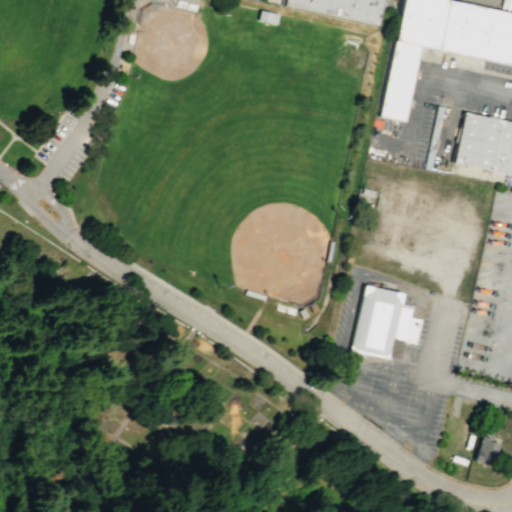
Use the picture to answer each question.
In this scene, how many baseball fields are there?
two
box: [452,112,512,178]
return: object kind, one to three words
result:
building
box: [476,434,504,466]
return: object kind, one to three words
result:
house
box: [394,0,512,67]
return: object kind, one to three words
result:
building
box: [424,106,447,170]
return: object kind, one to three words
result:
shed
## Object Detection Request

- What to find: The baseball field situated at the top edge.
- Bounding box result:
[110,6,346,178]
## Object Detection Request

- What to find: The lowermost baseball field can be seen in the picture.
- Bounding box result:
[130,106,346,306]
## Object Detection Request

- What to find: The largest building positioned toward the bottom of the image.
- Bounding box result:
[350,286,406,360]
